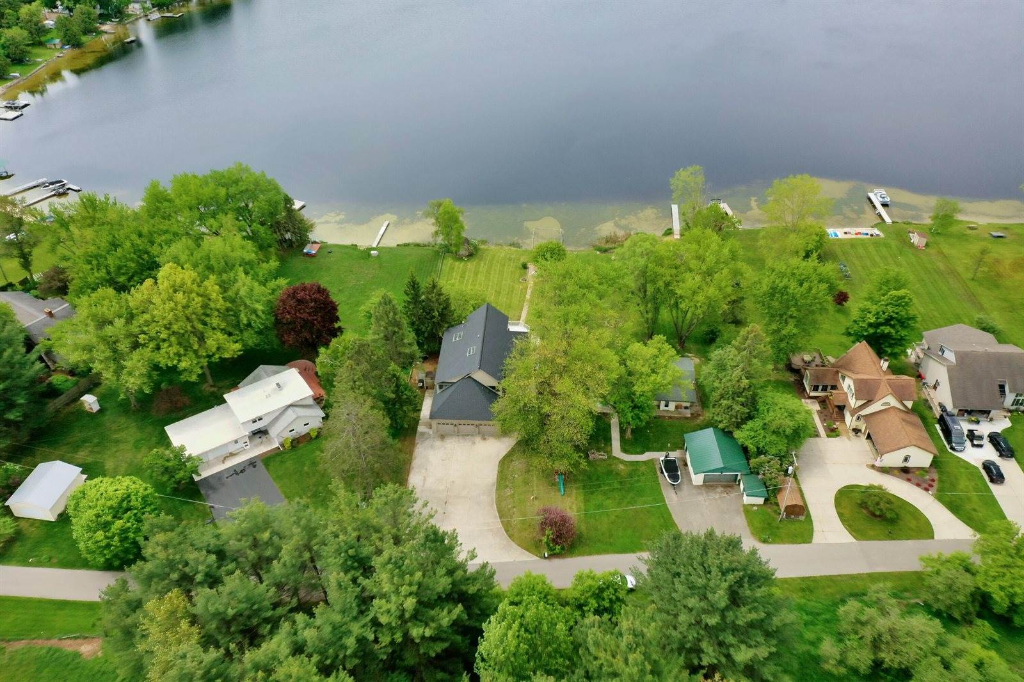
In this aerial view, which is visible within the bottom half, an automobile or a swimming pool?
automobile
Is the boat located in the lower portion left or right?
right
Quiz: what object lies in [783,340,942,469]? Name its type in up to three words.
house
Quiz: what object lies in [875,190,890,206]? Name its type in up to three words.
boat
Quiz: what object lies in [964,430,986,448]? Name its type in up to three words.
vehicle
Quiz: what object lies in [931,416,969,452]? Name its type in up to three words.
van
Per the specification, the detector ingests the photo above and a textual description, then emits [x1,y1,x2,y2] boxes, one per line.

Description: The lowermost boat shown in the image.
[658,452,681,486]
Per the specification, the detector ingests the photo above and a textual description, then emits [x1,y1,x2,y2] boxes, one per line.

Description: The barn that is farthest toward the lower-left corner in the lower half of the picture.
[5,460,90,525]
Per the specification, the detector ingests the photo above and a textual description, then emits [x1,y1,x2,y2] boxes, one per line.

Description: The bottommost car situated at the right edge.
[977,459,1010,484]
